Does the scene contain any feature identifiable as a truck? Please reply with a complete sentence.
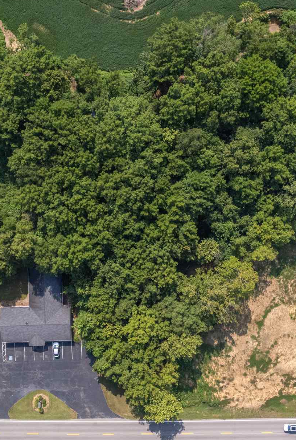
No, no truck is visible in the scene.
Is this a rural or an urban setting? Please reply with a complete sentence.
From above, the setting appears rural.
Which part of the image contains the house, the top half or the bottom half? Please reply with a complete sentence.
The bottom half of the photo is where the house is.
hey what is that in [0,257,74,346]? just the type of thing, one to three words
house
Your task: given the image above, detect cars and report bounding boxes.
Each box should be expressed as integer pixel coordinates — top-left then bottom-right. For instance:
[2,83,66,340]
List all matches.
[284,424,296,432]
[53,342,61,358]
